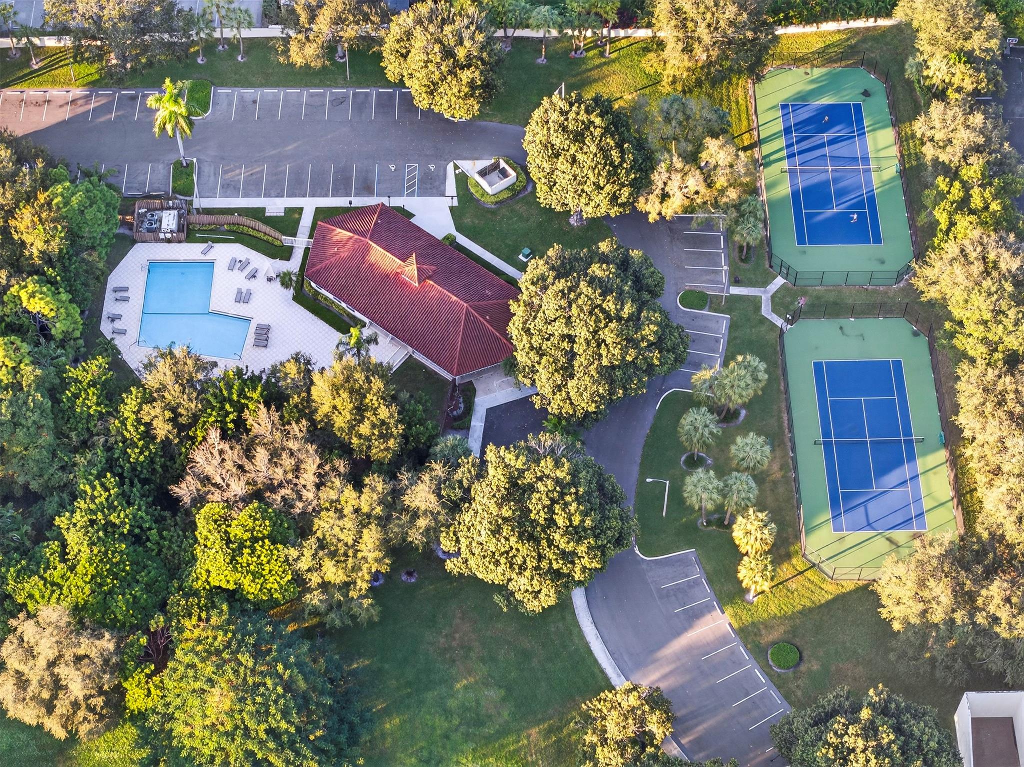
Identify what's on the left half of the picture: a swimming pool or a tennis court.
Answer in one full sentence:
It is a swimming pool that can be seen on the left half of the picture.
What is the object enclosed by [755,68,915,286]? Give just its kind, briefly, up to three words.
tennis court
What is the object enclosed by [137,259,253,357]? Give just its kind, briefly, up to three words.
swimming pool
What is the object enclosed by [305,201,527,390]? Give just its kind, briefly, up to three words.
building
